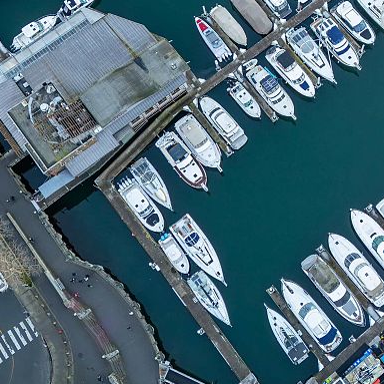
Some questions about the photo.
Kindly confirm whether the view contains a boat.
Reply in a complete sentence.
Yes, there's a boat down there.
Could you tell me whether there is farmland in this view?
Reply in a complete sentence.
No, there is no farmland in the image.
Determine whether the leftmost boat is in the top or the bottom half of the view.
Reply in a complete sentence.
It is in the top half that the leftmost boat appears.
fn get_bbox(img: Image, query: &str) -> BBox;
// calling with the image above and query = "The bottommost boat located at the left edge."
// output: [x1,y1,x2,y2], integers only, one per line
[12,12,57,48]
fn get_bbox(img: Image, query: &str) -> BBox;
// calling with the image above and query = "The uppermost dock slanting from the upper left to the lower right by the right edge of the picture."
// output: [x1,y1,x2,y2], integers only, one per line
[322,5,368,58]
